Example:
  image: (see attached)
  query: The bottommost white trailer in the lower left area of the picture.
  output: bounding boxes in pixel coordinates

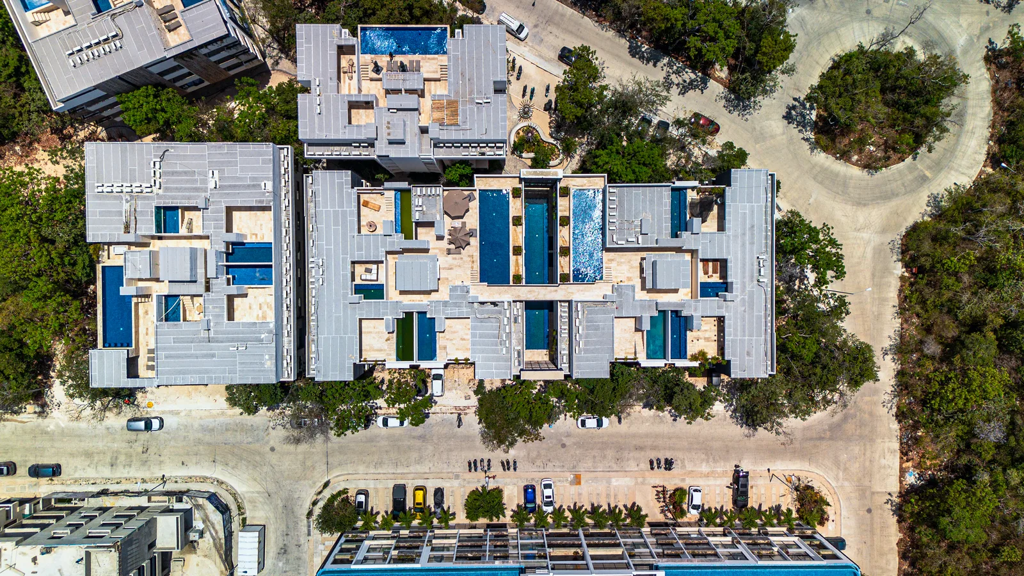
[239,522,272,576]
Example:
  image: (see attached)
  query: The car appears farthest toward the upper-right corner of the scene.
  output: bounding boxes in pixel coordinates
[688,112,720,137]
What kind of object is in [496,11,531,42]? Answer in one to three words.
van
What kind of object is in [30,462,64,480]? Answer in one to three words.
car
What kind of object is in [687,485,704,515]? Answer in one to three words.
car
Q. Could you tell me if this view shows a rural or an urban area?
urban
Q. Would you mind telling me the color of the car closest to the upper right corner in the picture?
red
